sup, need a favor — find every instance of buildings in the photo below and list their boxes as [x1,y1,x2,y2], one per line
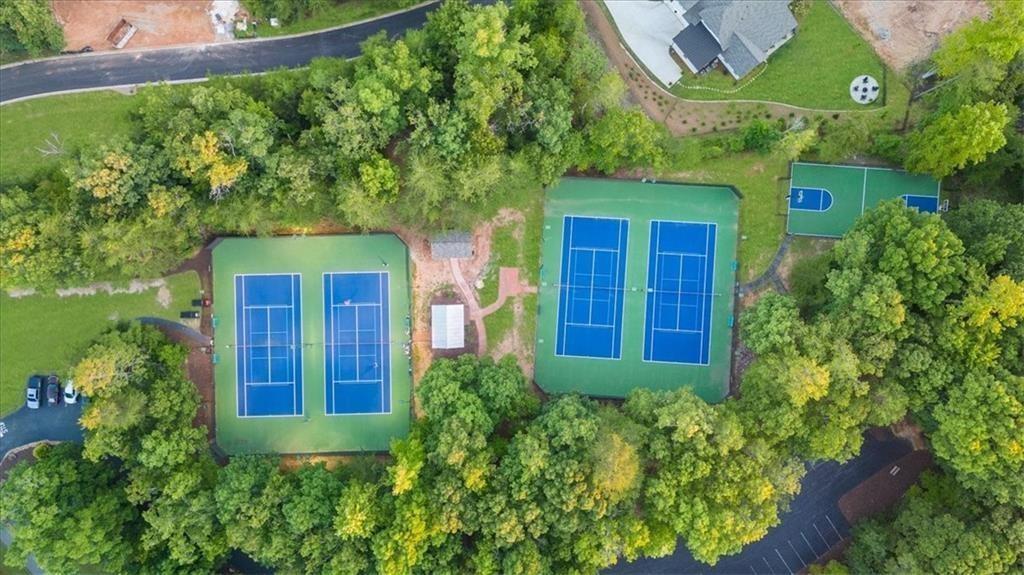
[431,234,472,259]
[431,304,465,350]
[663,0,802,82]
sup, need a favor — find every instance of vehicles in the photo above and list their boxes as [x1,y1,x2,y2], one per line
[64,378,79,405]
[45,376,62,403]
[191,299,210,306]
[182,310,201,318]
[26,375,45,407]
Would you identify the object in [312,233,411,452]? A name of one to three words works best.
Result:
tennis court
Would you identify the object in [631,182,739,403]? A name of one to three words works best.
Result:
tennis court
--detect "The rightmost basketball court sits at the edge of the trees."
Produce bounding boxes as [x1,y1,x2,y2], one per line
[786,162,942,248]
